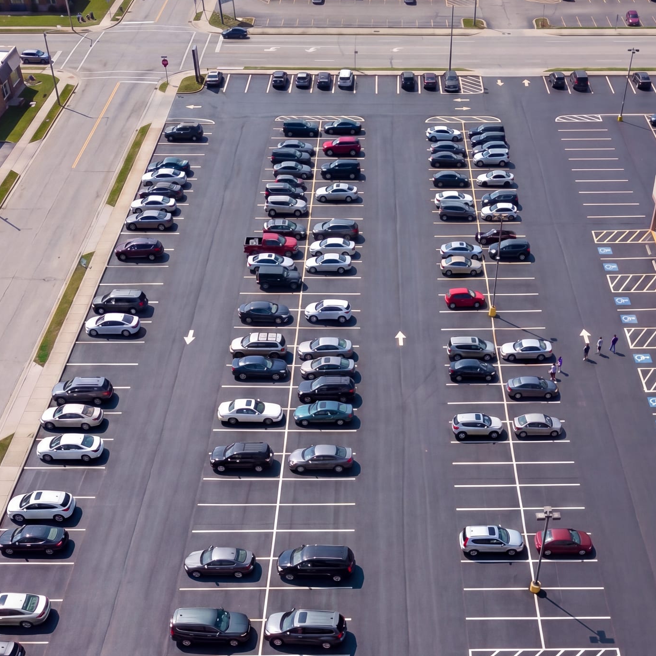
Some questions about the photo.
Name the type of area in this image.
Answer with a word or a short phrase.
parking lot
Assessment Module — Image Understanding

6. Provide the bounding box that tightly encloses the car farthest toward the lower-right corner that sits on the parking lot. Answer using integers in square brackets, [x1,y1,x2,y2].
[529,526,594,555]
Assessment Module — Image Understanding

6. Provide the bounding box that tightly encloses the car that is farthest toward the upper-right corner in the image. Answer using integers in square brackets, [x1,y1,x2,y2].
[620,6,639,24]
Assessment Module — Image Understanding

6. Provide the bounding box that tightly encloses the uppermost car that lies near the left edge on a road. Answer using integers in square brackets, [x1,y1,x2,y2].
[17,48,49,64]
